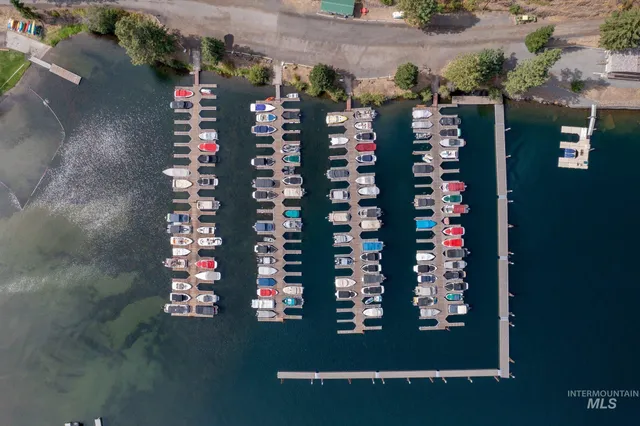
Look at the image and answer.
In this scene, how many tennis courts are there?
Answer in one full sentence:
Not a single tennis court can be seen.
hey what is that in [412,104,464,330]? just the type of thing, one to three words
pier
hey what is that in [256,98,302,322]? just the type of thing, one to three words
pier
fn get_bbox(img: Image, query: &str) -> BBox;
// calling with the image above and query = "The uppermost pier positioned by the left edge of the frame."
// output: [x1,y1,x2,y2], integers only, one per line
[29,55,82,85]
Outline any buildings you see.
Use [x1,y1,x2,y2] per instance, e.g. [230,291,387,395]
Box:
[605,51,640,74]
[321,0,356,20]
